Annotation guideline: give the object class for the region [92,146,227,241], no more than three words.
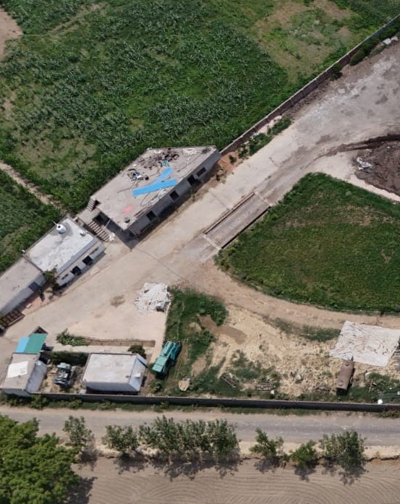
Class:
house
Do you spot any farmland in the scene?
Yes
